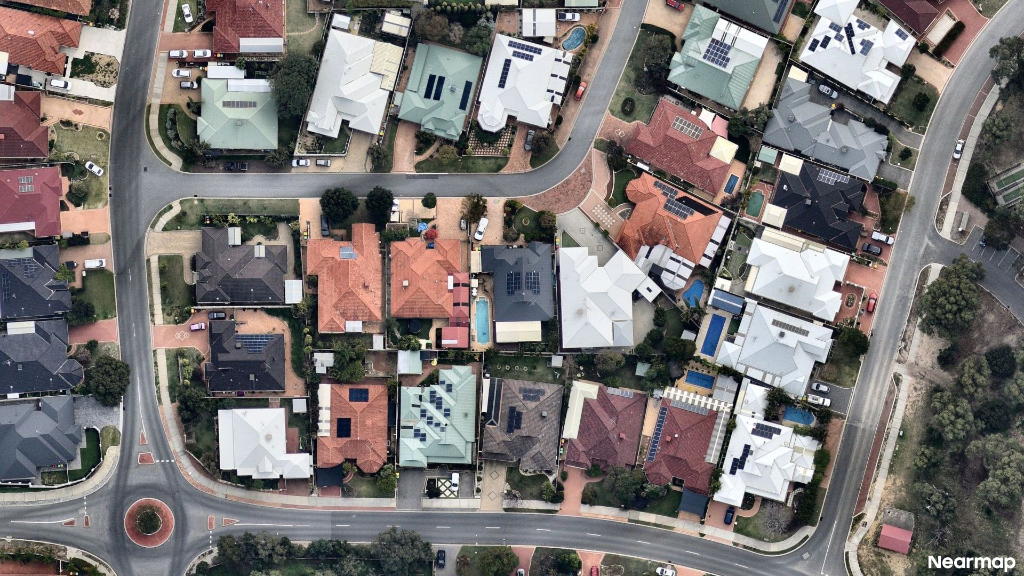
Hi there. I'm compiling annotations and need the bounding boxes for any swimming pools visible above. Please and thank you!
[724,174,740,196]
[782,405,815,426]
[744,188,766,219]
[475,295,491,345]
[683,369,716,391]
[700,313,727,358]
[681,278,706,309]
[561,27,586,52]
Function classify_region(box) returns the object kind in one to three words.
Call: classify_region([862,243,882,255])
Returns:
vehicle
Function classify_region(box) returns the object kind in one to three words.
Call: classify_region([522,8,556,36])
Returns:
building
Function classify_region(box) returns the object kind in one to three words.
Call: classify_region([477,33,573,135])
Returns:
house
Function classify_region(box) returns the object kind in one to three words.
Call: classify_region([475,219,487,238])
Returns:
vehicle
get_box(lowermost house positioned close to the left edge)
[0,396,82,481]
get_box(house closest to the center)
[471,242,554,342]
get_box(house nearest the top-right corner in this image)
[876,0,939,36]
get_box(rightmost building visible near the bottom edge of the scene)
[877,523,914,555]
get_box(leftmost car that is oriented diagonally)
[85,161,103,176]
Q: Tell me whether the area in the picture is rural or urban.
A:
urban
